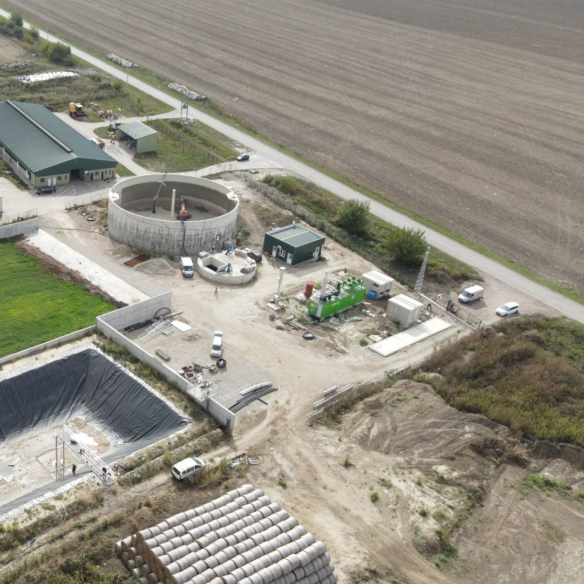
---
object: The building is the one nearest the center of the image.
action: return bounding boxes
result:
[262,223,325,264]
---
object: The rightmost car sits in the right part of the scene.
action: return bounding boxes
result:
[495,302,524,317]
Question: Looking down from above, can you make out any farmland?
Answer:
Yes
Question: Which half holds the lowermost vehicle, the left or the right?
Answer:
left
